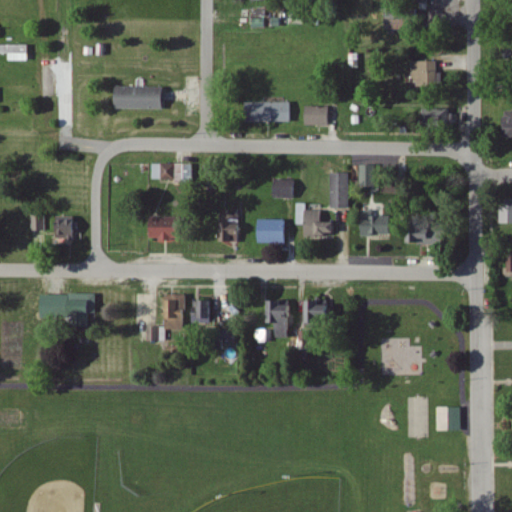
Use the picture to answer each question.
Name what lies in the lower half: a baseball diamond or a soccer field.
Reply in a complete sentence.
The feature located in the lower half is a baseball diamond.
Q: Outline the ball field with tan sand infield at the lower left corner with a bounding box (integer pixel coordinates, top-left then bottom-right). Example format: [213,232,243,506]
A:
[0,435,96,512]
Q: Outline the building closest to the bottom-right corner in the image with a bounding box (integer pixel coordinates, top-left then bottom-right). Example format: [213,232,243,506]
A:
[436,406,460,432]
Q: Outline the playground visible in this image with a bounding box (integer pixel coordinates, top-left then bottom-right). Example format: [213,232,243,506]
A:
[382,338,426,376]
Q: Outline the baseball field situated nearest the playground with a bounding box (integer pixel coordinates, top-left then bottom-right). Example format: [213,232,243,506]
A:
[198,479,339,512]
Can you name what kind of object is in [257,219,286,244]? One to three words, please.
house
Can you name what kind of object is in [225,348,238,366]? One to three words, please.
swimming pool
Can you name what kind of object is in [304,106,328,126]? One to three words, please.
house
